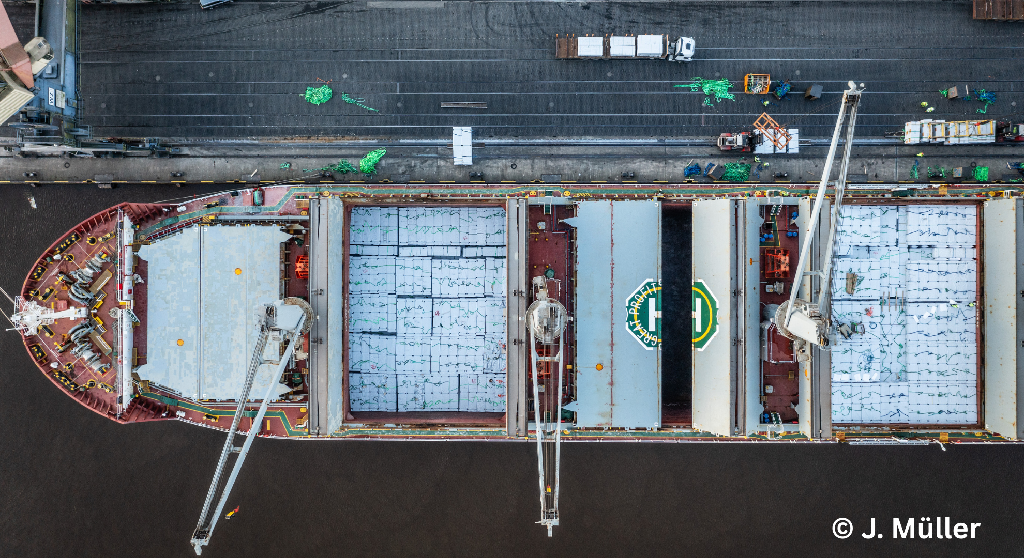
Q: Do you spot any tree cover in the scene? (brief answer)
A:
No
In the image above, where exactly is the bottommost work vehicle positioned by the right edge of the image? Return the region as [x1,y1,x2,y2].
[995,122,1024,142]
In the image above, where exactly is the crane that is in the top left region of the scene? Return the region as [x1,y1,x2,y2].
[0,0,179,158]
